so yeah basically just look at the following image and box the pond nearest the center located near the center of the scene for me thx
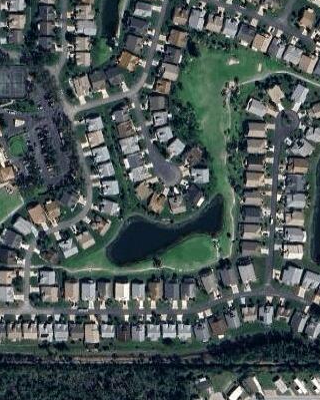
[106,195,221,266]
